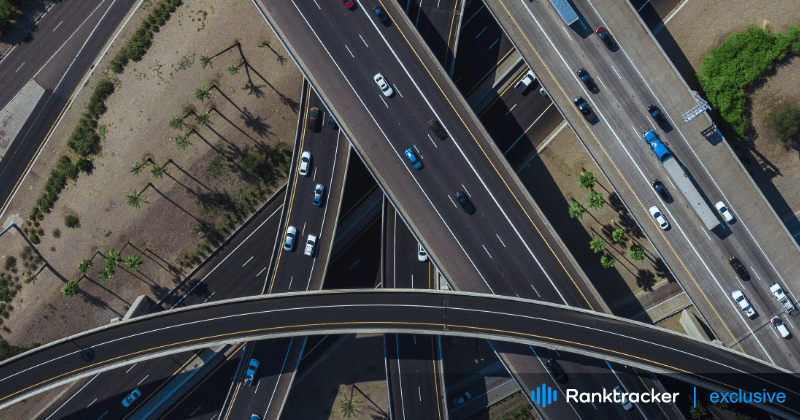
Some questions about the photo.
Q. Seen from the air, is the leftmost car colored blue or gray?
blue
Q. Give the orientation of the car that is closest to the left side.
at an angle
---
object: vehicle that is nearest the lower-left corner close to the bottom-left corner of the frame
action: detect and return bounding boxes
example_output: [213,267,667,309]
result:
[123,386,143,406]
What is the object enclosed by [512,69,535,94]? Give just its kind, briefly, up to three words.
truck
